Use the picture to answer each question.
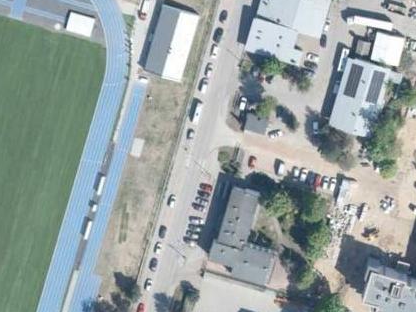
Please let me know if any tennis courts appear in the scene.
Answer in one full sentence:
No, I find no tennis court anywhere in the image.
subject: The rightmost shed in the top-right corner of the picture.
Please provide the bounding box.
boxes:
[370,29,407,67]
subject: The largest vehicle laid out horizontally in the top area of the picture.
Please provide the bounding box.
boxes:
[347,15,393,33]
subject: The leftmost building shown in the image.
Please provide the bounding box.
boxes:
[143,1,200,82]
